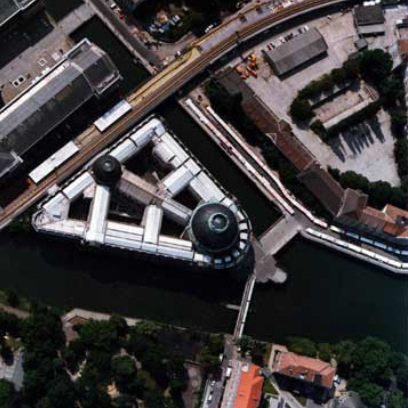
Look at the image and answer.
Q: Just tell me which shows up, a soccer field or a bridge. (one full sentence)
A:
Visible in the photo is a bridge.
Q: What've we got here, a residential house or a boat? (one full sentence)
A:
This aerial view contains a residential house.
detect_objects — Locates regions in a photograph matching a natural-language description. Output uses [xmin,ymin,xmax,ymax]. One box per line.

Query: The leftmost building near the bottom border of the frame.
[223,359,264,408]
